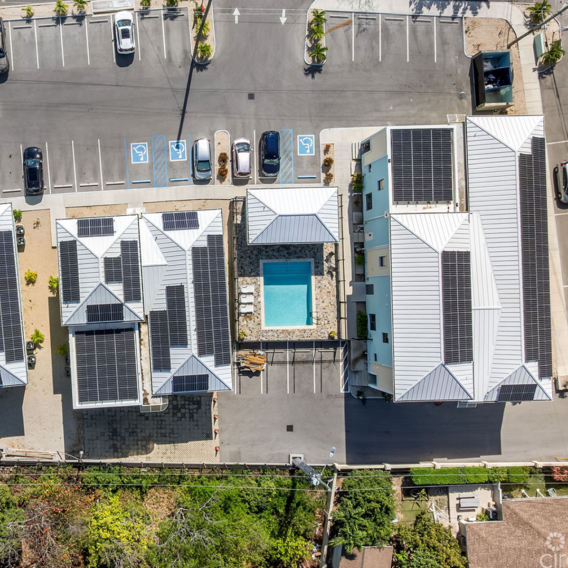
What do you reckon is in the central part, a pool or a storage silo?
pool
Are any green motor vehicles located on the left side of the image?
No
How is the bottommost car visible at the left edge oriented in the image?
from top to bottom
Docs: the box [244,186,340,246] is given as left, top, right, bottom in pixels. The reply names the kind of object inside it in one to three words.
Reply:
building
